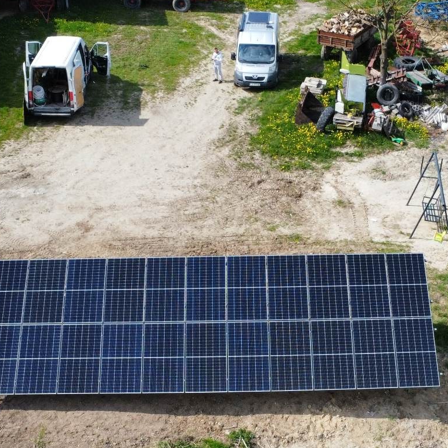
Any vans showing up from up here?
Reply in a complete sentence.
Yes, the photo shows a van.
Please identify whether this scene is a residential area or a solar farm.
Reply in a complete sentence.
The picture captures a solar farm.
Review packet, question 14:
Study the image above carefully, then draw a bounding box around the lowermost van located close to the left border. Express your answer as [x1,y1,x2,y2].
[21,41,108,115]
